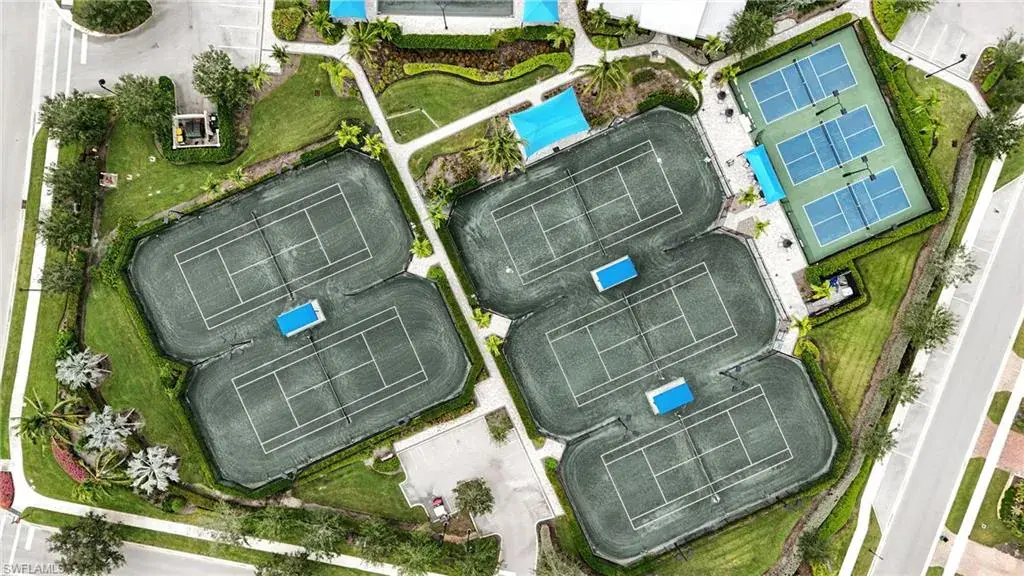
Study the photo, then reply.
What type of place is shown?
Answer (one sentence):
The picture captures a sports ground.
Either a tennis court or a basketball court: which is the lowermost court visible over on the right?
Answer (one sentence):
The lowermost court visible over on the right is a tennis court.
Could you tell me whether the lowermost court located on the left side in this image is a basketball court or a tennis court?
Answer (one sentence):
The lowermost court located on the left side can be classified as a tennis court.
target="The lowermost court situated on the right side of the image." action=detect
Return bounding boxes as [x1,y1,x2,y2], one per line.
[560,352,833,562]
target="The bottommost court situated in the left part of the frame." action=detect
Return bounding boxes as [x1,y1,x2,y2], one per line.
[195,271,469,487]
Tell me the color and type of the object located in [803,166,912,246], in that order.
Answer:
blue sports court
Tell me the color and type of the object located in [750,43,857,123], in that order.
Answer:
blue sports court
